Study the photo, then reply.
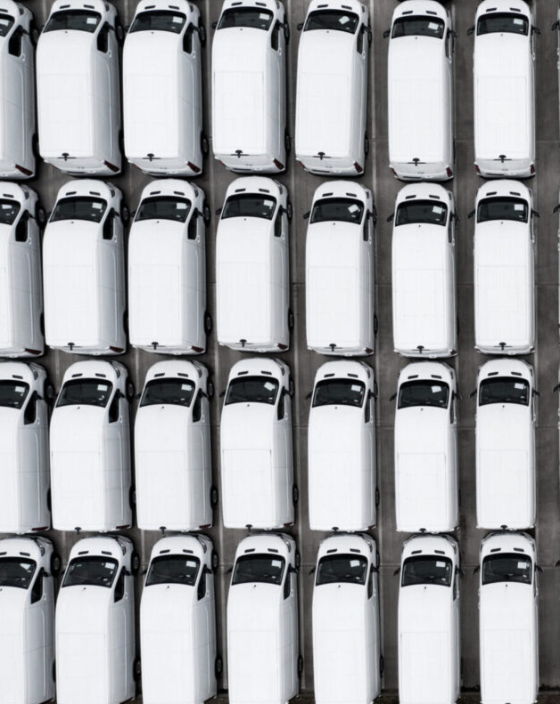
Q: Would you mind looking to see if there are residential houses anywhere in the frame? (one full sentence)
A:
No, there appears to be no residential house in this shot.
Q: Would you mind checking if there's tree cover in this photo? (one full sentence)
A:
No, the scene doesn't show any tree cover.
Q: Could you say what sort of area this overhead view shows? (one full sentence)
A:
The picture captures a parking lot.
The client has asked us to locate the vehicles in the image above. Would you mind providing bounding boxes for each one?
[51,358,138,535]
[302,180,377,356]
[56,533,142,704]
[0,534,62,704]
[382,0,457,183]
[393,532,464,704]
[225,530,303,704]
[218,357,299,533]
[466,0,540,180]
[0,0,46,181]
[210,0,291,175]
[469,357,540,533]
[472,530,543,704]
[0,360,56,534]
[467,180,540,355]
[304,359,379,535]
[296,0,371,178]
[38,0,127,178]
[129,178,213,355]
[0,180,49,357]
[308,531,381,704]
[44,179,132,355]
[123,0,209,179]
[214,175,295,353]
[139,532,223,704]
[386,182,459,358]
[389,360,461,536]
[134,358,219,535]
